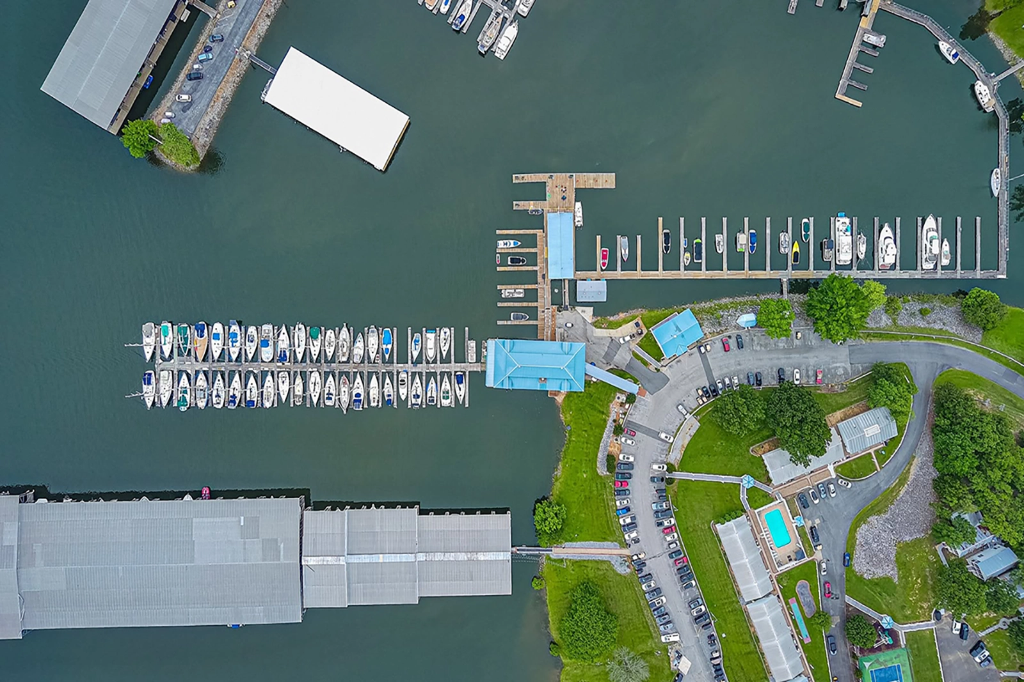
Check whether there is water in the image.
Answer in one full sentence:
Yes, water can be seen from above here.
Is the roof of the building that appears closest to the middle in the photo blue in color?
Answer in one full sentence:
Yes, the roof of the building that appears closest to the middle is blue.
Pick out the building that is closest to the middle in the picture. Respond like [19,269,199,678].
[486,339,585,391]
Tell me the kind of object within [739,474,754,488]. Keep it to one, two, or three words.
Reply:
gazebo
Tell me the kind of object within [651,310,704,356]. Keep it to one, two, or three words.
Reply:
building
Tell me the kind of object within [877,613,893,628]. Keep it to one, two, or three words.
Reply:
gazebo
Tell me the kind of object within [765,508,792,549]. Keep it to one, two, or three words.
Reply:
swimming pool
